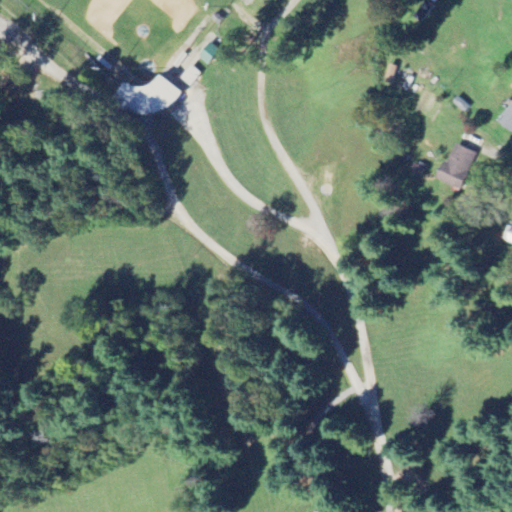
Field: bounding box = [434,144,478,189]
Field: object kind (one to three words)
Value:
house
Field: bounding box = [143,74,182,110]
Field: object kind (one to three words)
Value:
building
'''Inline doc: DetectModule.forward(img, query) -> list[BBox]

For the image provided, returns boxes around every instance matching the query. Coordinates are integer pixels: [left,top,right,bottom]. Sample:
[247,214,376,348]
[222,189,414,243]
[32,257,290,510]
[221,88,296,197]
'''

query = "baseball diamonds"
[86,0,198,74]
